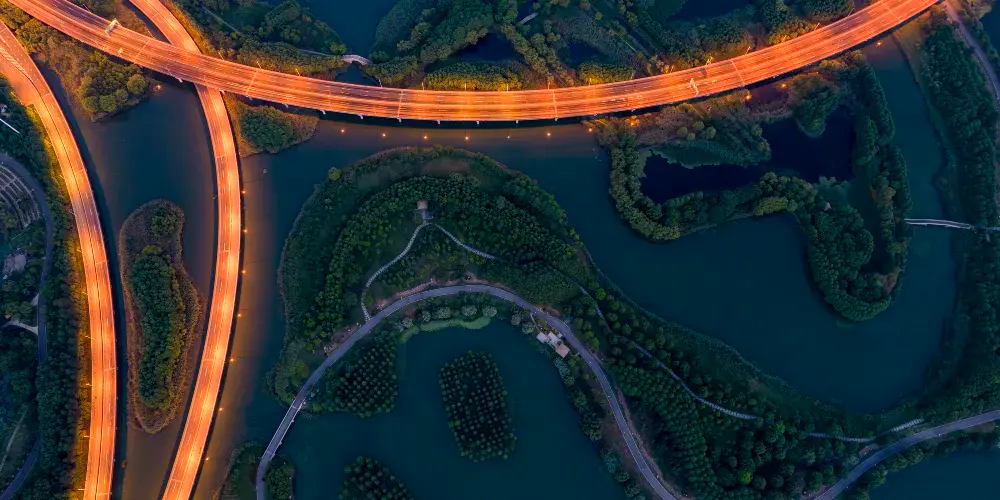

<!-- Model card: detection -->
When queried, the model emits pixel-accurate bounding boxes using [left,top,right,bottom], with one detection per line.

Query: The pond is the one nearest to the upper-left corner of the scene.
[450,27,525,69]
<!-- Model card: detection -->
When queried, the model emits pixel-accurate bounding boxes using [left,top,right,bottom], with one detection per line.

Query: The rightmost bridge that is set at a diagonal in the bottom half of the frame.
[265,387,308,450]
